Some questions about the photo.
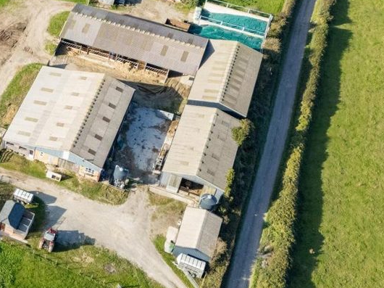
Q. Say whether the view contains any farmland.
Yes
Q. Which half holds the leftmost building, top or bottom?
bottom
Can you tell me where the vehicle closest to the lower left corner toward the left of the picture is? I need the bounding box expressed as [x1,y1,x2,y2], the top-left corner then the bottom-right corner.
[40,227,59,254]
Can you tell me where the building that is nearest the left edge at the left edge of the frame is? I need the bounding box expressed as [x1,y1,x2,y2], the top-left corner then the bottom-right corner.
[0,202,42,245]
